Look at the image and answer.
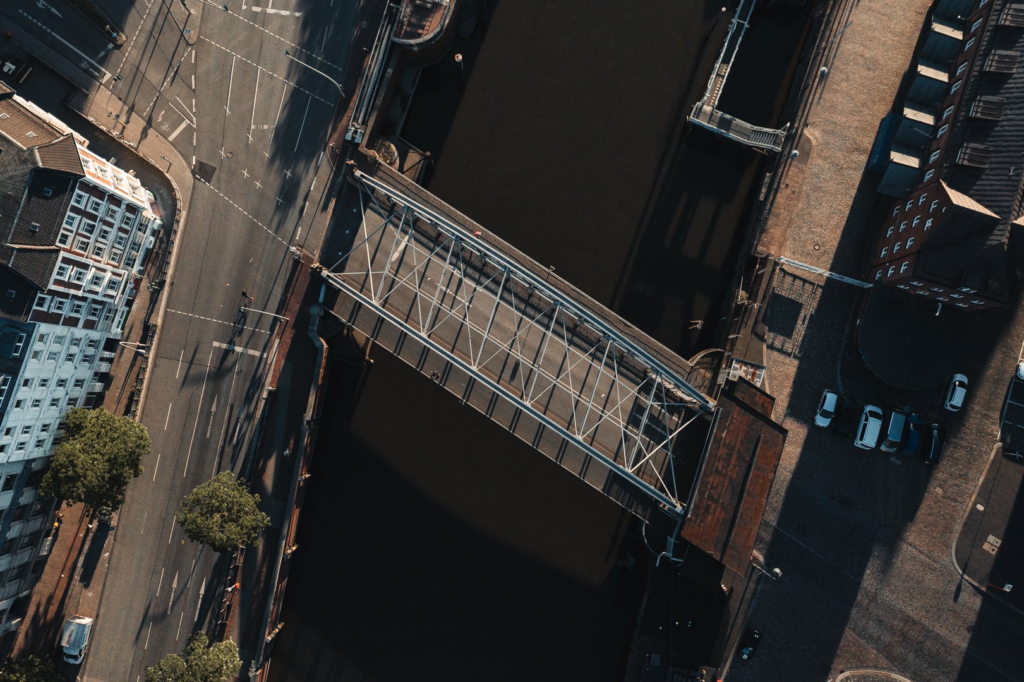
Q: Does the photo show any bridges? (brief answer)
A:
Yes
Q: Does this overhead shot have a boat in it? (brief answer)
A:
No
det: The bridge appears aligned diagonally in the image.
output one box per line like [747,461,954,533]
[313,158,723,528]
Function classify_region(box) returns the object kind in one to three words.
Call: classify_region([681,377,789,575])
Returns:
building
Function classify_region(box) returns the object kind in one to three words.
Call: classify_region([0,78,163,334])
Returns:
building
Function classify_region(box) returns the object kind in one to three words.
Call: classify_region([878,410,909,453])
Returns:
van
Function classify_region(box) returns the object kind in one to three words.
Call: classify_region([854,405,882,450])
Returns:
car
